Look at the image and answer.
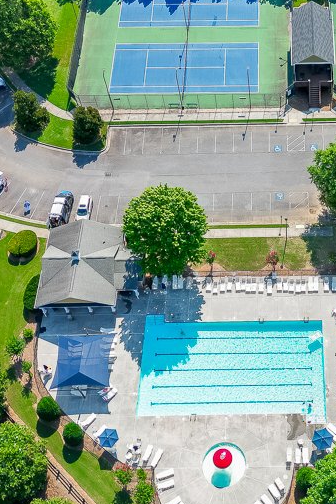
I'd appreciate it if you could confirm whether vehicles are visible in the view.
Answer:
Yes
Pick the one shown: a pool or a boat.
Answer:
pool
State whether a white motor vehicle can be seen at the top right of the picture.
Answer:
No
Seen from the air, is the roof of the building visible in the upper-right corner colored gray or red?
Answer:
gray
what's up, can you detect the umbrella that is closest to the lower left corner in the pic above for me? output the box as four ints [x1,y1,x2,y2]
[98,429,120,450]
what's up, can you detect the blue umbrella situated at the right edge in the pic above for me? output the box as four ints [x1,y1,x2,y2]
[312,430,332,451]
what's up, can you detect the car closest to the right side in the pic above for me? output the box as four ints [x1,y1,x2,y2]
[73,193,93,219]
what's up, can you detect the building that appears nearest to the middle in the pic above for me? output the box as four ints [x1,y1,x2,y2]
[35,217,147,315]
